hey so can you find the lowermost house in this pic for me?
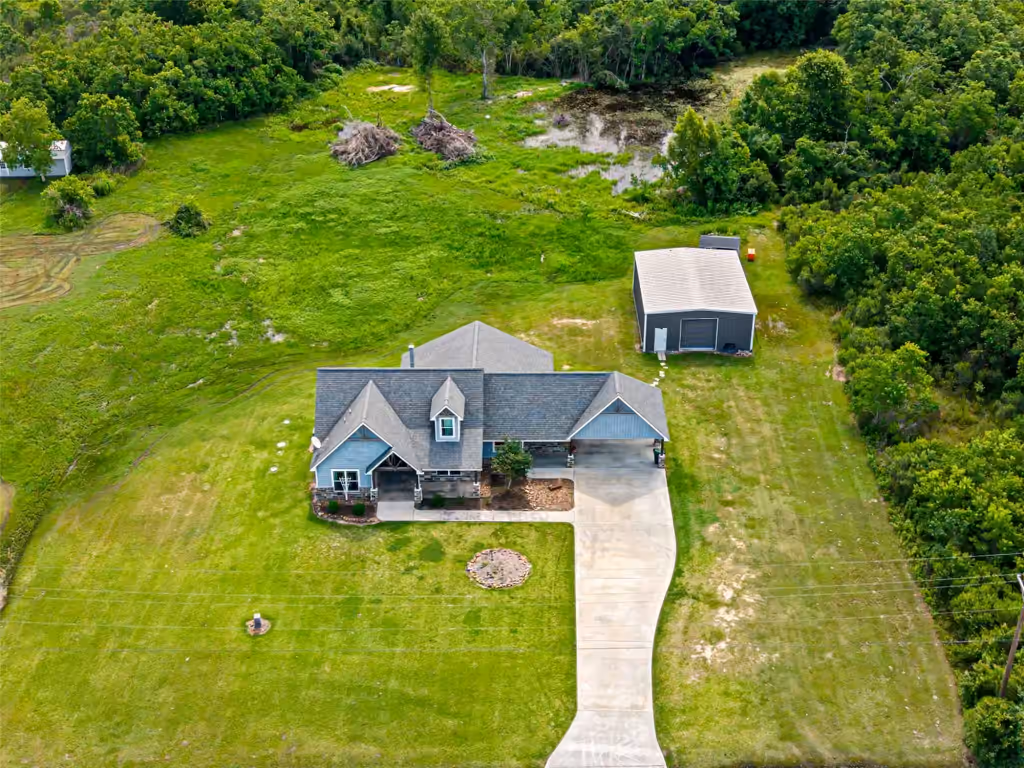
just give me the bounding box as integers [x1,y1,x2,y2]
[309,321,671,503]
